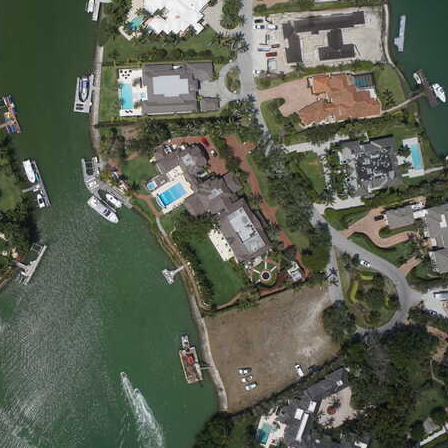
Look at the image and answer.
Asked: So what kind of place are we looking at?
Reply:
residential area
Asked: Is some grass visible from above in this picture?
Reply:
Yes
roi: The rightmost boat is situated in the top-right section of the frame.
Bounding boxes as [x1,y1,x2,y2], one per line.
[430,82,446,103]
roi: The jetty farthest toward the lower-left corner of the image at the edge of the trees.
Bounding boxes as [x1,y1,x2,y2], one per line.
[13,243,47,286]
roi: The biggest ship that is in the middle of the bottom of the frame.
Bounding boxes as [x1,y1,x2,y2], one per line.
[179,346,202,382]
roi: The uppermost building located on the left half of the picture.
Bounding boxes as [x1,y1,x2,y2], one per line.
[139,0,209,38]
